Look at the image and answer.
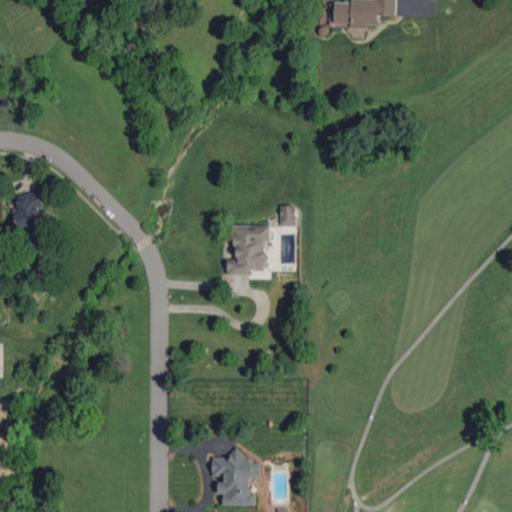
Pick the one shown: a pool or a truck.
pool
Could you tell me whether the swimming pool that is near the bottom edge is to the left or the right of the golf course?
to the left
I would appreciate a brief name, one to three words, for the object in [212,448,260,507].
house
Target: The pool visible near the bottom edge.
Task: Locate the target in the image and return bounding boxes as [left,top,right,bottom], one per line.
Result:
[264,461,290,506]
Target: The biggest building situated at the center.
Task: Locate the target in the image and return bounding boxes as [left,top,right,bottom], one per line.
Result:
[226,226,270,276]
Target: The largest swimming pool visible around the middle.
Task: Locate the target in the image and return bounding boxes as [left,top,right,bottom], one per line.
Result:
[250,226,296,280]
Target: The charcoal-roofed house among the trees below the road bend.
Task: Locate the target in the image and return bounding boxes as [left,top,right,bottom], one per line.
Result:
[10,192,44,228]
